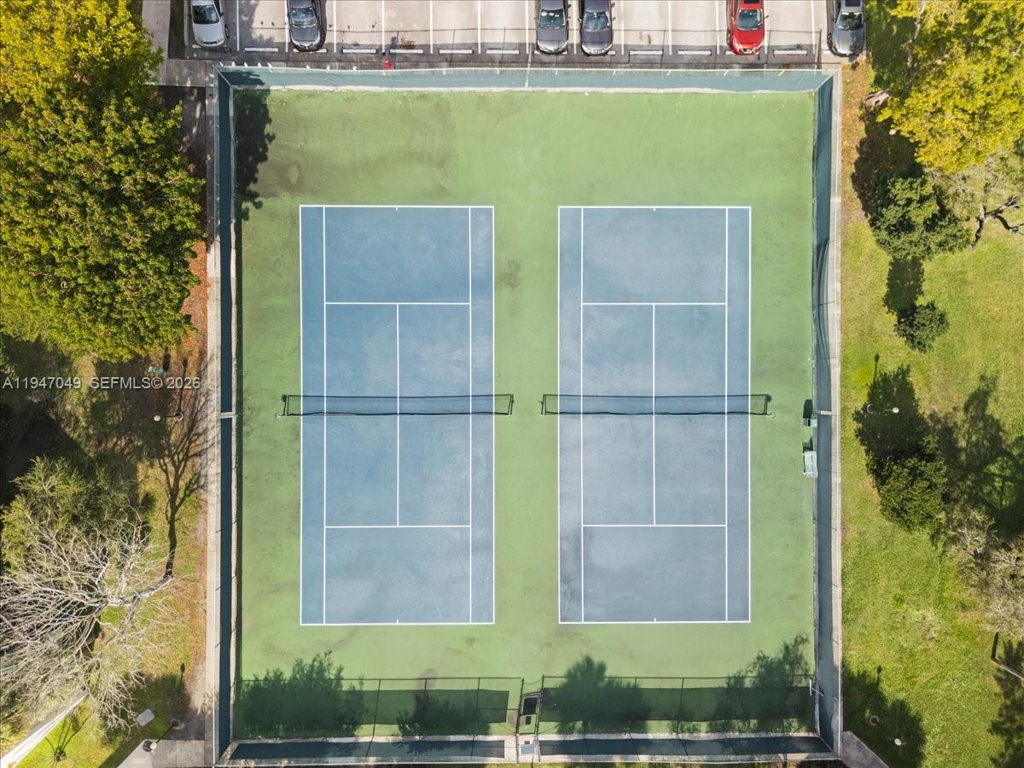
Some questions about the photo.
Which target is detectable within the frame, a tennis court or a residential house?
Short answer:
tennis court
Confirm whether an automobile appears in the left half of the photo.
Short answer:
Yes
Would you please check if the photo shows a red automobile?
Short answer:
Yes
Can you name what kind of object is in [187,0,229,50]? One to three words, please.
car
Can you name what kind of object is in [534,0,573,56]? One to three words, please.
car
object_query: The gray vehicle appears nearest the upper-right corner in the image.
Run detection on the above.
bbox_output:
[827,0,872,59]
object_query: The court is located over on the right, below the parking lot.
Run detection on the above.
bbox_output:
[559,206,750,624]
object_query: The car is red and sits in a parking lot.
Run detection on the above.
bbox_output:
[727,0,770,57]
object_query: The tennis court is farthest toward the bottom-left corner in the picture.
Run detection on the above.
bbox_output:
[300,205,494,625]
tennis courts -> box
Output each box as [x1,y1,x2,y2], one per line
[559,206,750,624]
[300,205,494,625]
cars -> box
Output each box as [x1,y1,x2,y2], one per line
[283,0,323,53]
[534,0,573,56]
[827,0,872,59]
[187,0,229,50]
[579,0,618,57]
[727,0,770,57]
